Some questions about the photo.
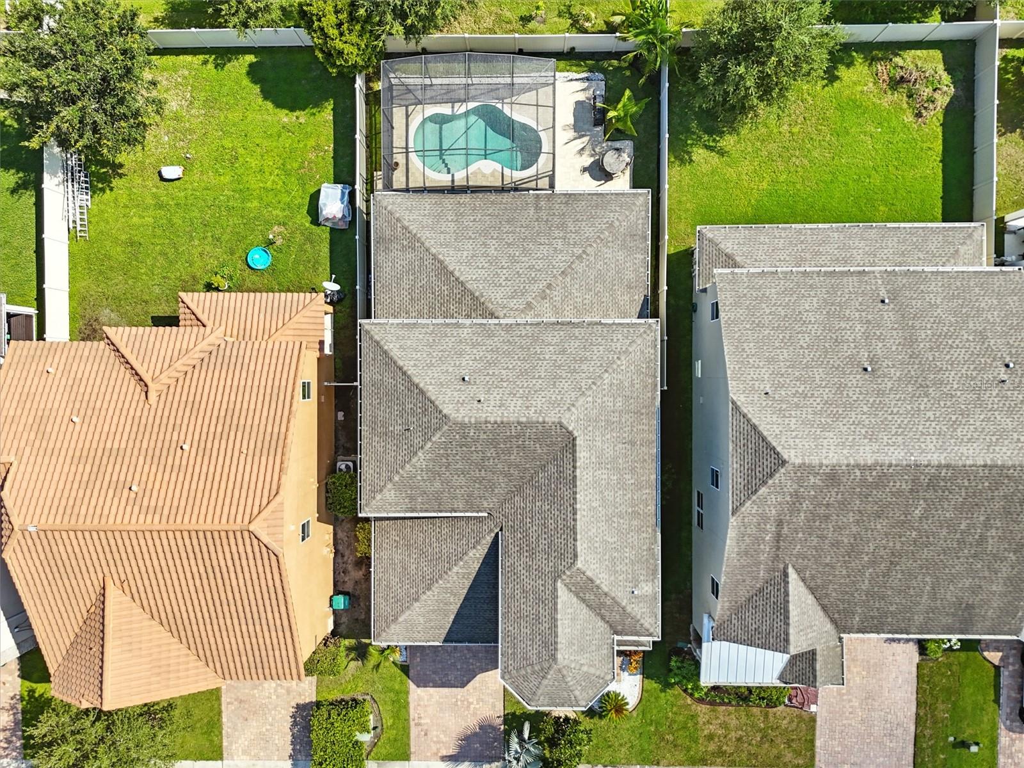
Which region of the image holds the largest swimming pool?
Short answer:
top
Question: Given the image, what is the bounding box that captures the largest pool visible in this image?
[407,98,548,180]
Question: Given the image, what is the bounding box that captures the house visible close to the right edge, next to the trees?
[691,224,1024,690]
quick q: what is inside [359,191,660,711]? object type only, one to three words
house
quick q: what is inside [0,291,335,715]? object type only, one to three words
house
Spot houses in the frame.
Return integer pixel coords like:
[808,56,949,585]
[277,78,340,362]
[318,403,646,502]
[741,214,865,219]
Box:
[359,191,660,711]
[0,291,335,715]
[691,224,1024,690]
